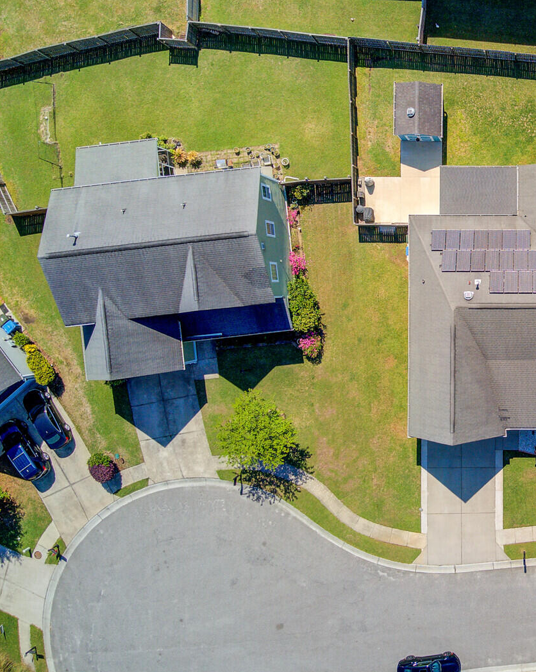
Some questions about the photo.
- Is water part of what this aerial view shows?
No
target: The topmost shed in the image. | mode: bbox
[393,79,443,142]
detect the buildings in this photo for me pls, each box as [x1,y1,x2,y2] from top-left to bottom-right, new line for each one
[393,79,443,142]
[408,164,536,446]
[0,325,42,407]
[35,140,300,382]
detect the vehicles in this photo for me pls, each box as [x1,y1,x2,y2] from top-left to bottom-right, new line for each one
[0,418,49,483]
[20,386,71,450]
[397,651,461,672]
